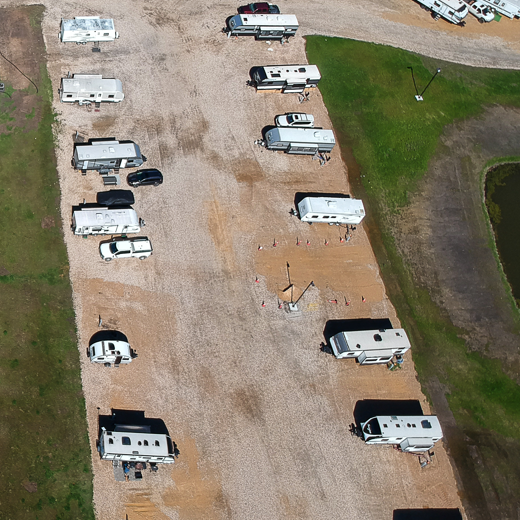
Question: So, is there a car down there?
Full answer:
Yes, the picture does show a car.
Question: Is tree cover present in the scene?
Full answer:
No, the picture contains no tree cover.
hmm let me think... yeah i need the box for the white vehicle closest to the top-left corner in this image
[58,18,117,49]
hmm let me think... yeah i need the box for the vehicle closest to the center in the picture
[282,196,365,228]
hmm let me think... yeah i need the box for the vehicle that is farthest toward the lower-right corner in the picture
[344,416,443,453]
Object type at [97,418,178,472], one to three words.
vehicle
